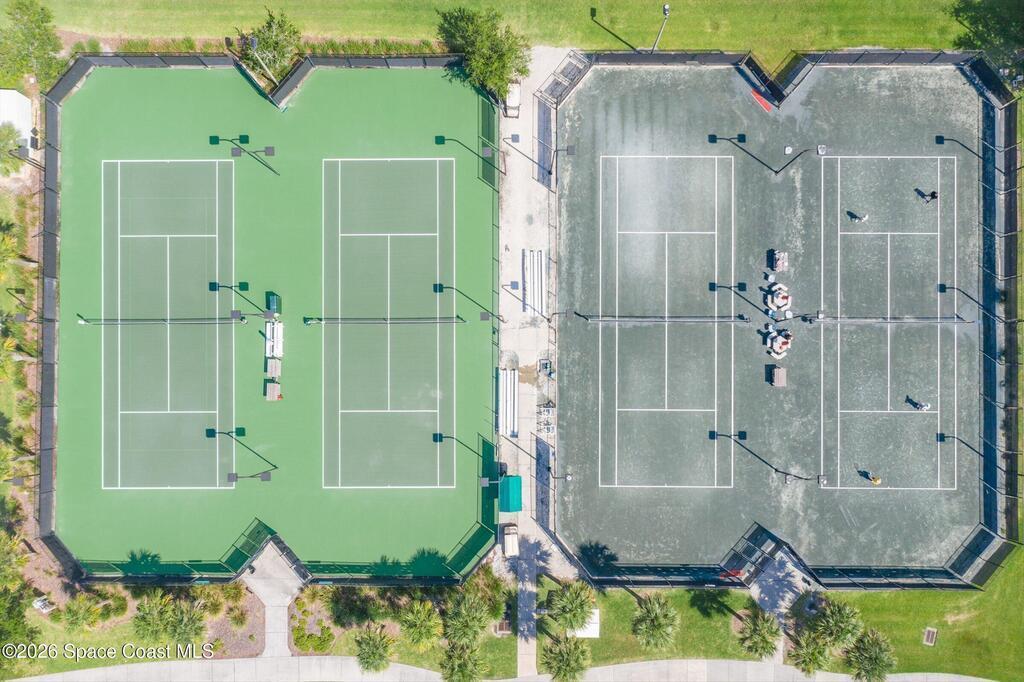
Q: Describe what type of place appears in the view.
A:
sports ground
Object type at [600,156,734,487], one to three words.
tennis court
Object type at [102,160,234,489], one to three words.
tennis court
